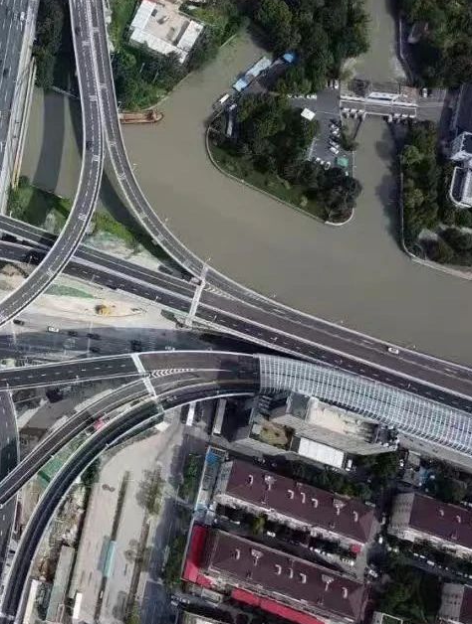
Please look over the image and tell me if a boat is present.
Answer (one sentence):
Yes, I can see a boat in this picture.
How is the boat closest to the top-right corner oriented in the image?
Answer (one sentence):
The boat closest to the top-right corner has been laid out at an angle relative to the frame.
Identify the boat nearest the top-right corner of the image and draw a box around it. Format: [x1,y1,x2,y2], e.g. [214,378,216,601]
[242,51,274,79]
